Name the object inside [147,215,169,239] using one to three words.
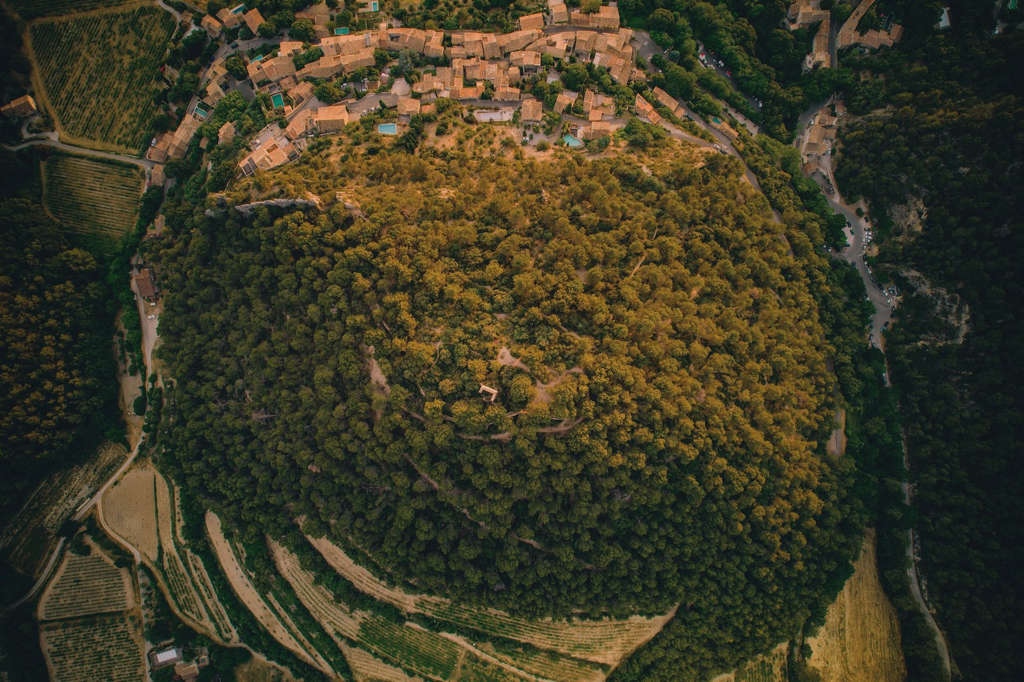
house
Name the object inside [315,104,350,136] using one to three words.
house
